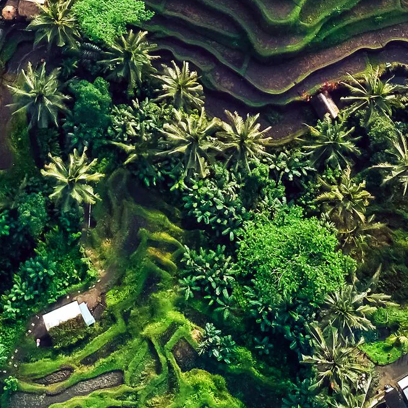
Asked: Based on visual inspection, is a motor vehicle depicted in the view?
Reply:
No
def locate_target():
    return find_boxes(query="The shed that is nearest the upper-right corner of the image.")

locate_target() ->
[303,86,343,124]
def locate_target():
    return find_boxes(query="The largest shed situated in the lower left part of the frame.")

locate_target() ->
[42,295,93,343]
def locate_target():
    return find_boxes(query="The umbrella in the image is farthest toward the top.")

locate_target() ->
[2,5,17,19]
